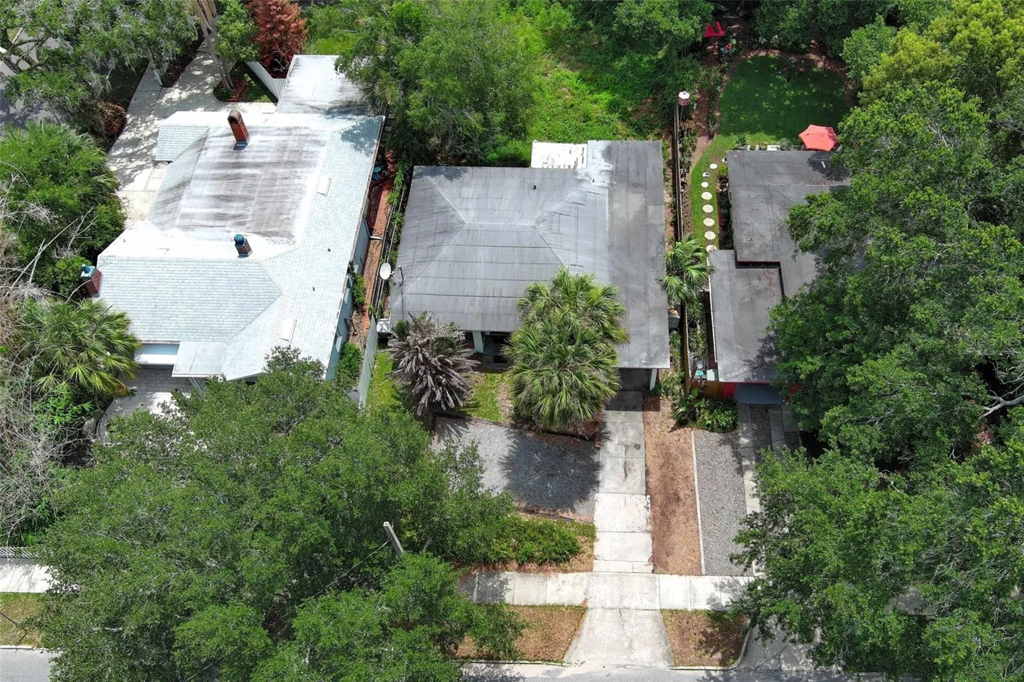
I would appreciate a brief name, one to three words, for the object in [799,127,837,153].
umbrella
